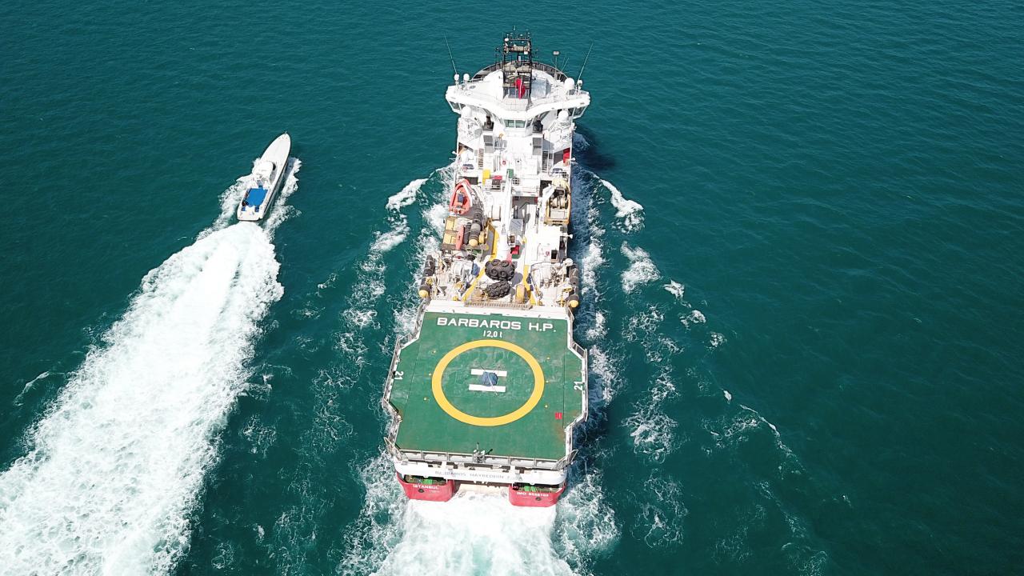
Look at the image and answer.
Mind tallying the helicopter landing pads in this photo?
one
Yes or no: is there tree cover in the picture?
No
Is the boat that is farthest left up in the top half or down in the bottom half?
top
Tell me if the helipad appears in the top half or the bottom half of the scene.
bottom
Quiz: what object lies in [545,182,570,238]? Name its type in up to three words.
boat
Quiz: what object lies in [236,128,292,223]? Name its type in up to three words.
boat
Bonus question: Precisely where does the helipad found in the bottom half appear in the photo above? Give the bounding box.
[384,298,587,472]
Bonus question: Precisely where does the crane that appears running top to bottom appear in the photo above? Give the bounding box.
[494,176,518,261]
